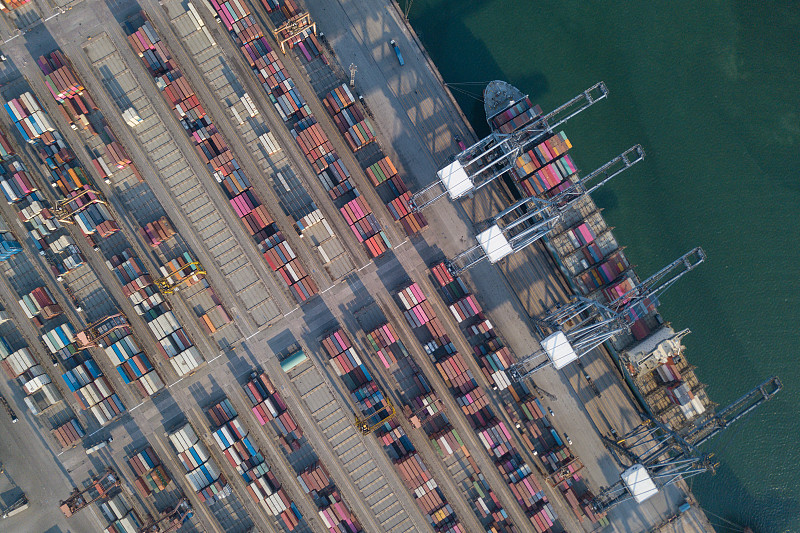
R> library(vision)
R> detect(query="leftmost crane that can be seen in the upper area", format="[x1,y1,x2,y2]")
[52,186,112,226]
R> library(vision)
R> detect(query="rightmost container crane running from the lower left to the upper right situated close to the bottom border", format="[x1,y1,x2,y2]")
[591,374,778,513]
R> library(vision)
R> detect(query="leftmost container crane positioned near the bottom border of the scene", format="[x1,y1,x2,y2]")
[56,467,122,520]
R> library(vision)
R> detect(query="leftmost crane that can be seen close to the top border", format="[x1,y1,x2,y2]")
[273,10,319,55]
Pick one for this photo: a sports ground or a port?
port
